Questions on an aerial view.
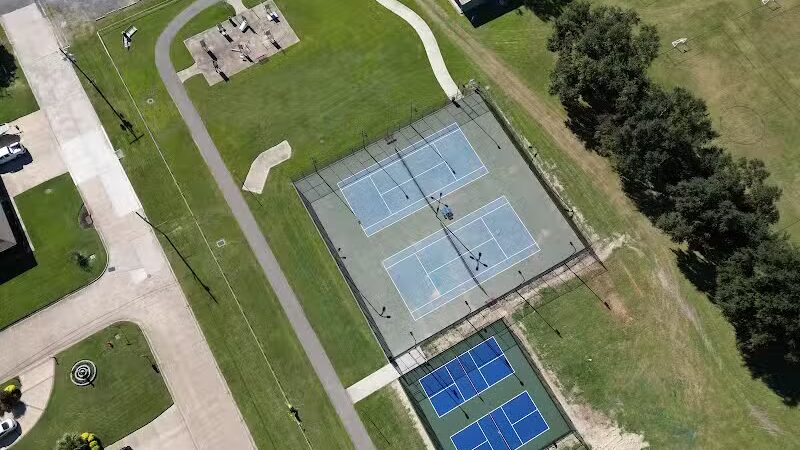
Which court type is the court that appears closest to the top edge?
tennis court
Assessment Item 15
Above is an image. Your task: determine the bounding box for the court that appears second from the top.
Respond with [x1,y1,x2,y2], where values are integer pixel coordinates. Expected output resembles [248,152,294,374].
[384,196,541,320]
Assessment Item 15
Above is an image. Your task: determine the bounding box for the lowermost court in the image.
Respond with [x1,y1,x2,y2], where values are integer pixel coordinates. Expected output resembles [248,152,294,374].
[452,391,548,450]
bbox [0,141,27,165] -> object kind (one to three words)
truck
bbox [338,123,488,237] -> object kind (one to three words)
tennis court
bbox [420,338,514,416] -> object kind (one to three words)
sports court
